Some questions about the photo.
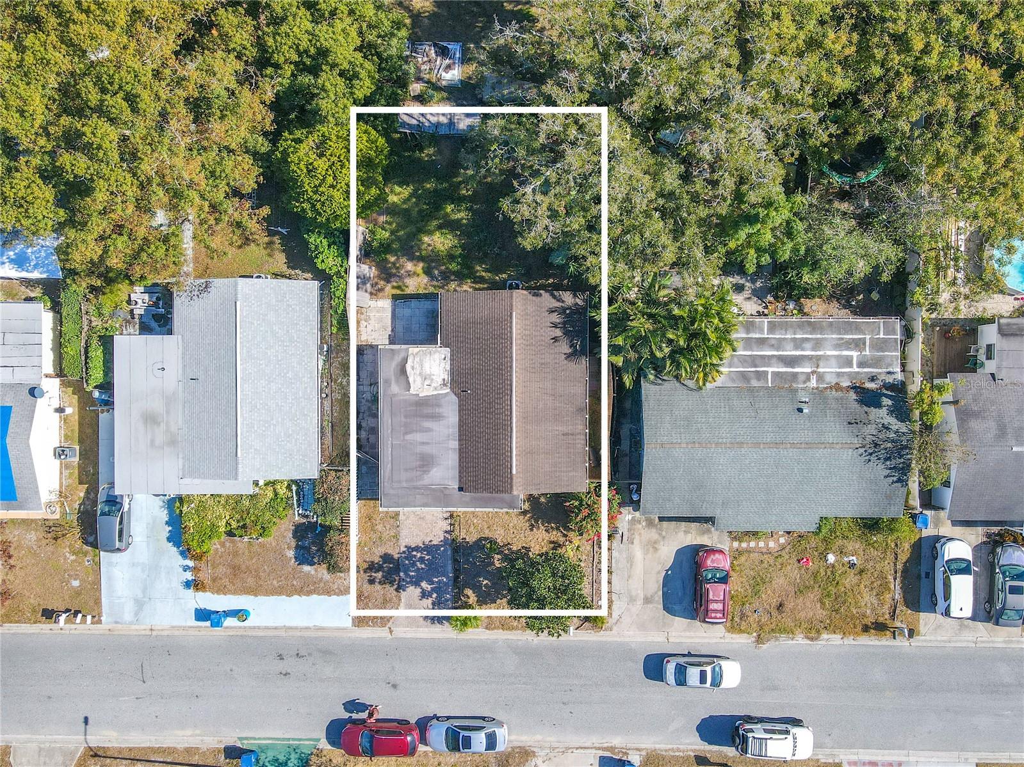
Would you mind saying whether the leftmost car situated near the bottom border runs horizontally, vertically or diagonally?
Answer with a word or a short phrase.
horizontally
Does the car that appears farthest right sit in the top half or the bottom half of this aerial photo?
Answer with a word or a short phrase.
bottom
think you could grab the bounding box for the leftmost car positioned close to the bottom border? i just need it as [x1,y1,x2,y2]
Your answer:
[342,719,421,757]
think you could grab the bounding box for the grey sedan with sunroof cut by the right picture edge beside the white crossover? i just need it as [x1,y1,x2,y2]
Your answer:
[985,542,1024,628]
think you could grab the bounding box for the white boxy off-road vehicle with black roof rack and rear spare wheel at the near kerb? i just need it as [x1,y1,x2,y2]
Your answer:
[733,718,815,760]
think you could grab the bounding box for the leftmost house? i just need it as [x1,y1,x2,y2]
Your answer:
[0,301,60,512]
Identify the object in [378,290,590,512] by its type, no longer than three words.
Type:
house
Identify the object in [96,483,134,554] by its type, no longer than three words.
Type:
car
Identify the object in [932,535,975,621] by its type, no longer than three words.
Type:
car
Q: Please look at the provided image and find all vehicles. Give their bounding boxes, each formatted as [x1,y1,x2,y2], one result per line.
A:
[985,542,1024,628]
[733,718,815,760]
[695,546,730,624]
[96,483,134,554]
[425,716,508,753]
[662,653,740,689]
[342,719,421,757]
[932,535,975,621]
